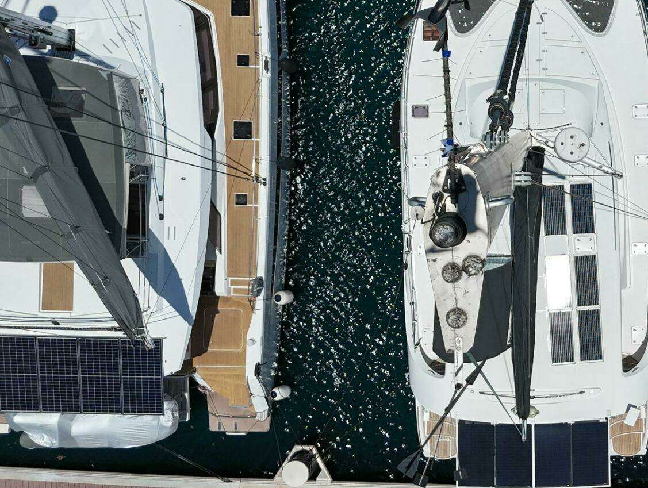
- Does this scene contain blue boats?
No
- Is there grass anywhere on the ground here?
No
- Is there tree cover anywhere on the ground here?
No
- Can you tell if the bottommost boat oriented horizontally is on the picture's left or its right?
left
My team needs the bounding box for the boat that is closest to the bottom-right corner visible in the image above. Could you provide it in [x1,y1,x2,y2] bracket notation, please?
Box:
[397,0,648,488]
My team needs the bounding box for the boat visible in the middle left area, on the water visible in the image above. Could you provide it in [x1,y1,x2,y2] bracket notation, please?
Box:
[0,0,294,434]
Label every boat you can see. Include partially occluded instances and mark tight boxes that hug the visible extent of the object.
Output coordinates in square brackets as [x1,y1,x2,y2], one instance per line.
[0,388,179,450]
[0,0,294,434]
[397,0,648,488]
